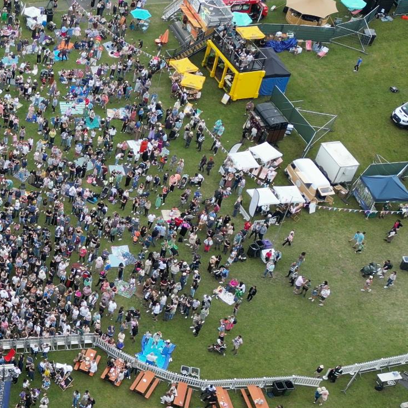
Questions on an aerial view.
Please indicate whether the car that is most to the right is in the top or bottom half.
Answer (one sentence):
The car that is most to the right sits in the top half of the picture.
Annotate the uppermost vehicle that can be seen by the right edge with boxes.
[385,93,408,127]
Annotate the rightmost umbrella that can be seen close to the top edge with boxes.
[339,0,367,19]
